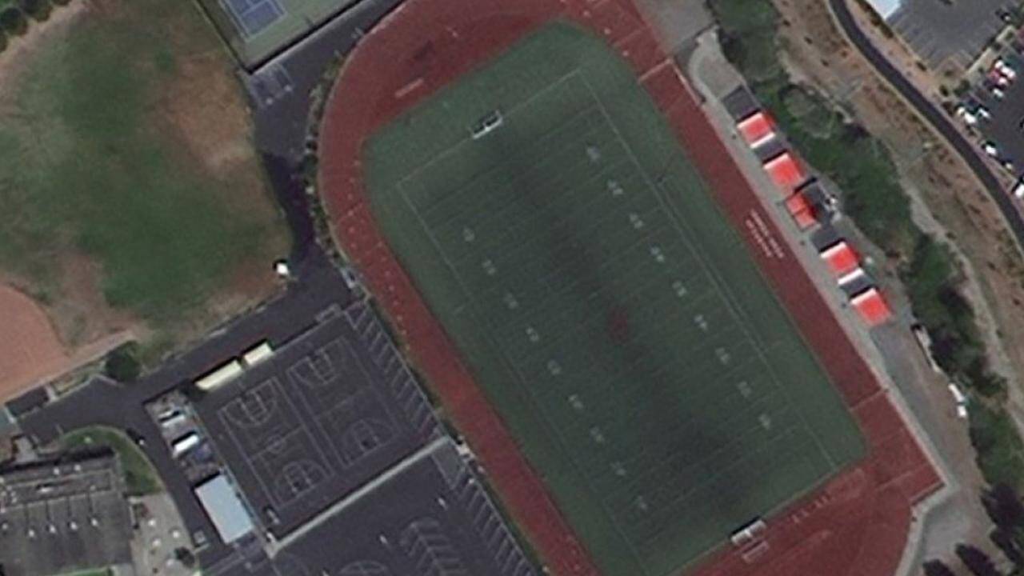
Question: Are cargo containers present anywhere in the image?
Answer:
Yes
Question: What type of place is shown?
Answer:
sports ground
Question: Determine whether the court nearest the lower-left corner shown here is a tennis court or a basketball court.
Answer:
basketball court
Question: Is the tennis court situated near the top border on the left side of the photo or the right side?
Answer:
left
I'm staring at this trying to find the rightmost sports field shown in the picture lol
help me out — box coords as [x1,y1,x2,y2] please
[359,18,869,576]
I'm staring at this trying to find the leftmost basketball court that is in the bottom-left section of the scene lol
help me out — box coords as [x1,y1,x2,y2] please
[220,379,333,508]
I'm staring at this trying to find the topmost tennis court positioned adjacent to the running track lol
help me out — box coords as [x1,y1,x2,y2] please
[204,0,370,69]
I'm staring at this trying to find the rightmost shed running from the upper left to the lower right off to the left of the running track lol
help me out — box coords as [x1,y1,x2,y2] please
[195,474,254,546]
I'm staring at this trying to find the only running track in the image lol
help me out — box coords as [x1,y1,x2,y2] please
[318,0,944,576]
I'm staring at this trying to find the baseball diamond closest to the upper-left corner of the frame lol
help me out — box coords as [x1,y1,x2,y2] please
[0,0,288,405]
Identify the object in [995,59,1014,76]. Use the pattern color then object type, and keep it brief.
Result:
white car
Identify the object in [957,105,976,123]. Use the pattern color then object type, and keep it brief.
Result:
white car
